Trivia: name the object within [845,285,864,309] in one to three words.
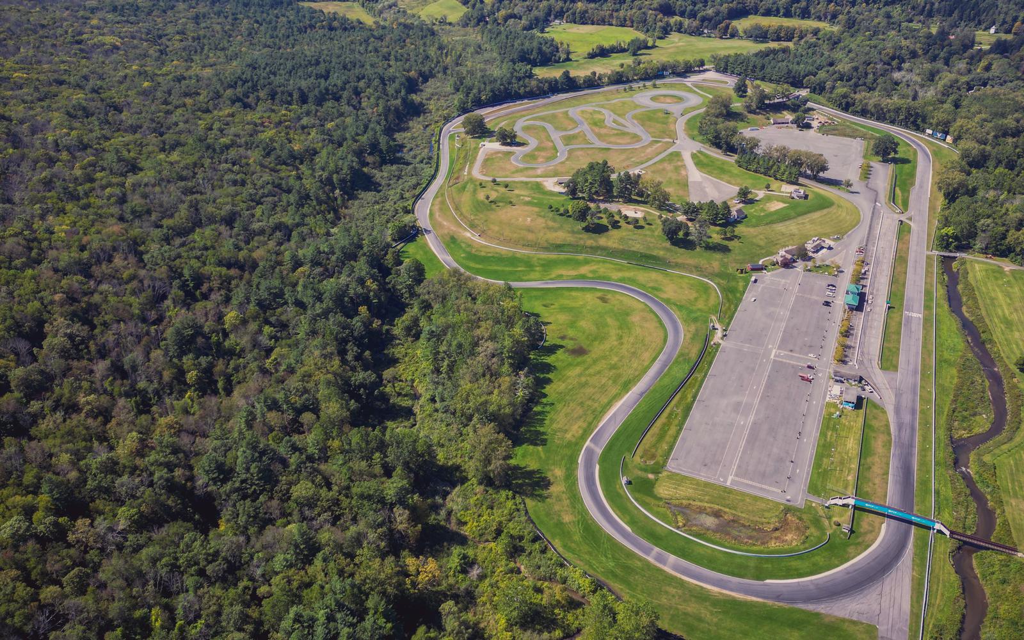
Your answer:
building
